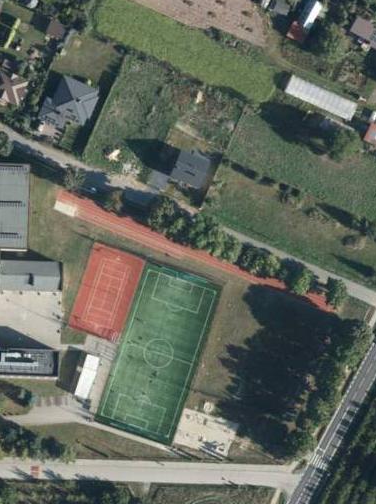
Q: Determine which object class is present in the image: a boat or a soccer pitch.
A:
soccer pitch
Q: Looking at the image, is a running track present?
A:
Yes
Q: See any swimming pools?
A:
No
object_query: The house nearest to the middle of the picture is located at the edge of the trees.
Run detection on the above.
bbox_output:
[146,148,211,190]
